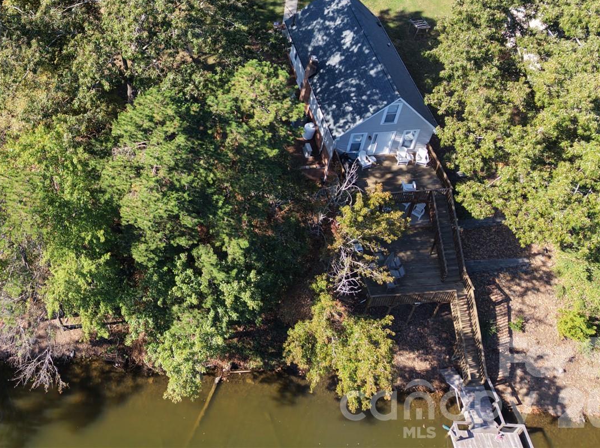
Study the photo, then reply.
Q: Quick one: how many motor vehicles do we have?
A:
0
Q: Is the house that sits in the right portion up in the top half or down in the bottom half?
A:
top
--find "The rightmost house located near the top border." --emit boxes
[280,0,445,179]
